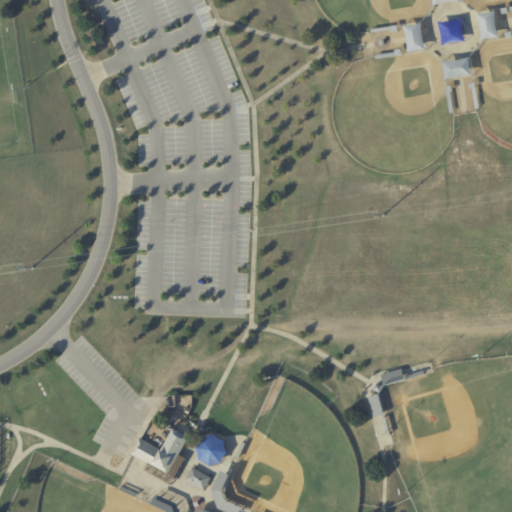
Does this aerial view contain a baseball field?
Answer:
Yes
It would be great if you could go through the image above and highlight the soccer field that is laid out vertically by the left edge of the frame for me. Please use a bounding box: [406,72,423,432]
[0,0,33,158]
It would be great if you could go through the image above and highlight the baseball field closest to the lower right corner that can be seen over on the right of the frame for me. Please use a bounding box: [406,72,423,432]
[388,356,512,512]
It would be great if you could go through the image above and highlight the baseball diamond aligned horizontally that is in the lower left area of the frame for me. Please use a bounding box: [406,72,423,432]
[38,462,164,512]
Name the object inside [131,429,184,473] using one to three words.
building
